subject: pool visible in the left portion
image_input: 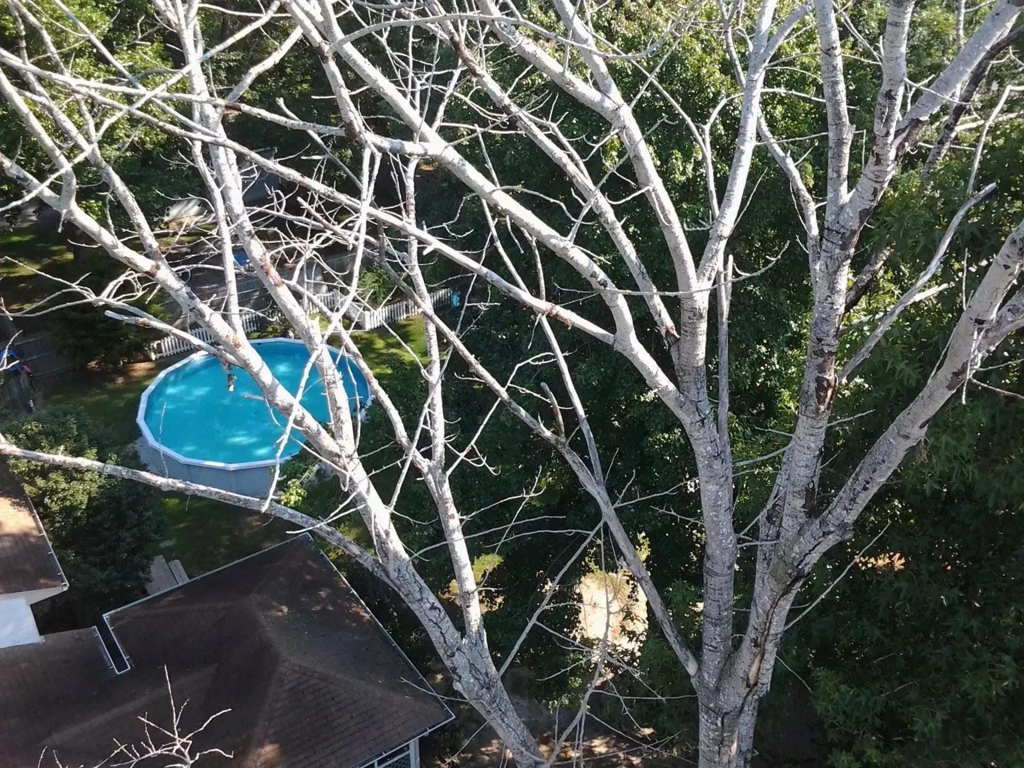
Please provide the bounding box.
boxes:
[135,338,375,499]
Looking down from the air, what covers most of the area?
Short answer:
trees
